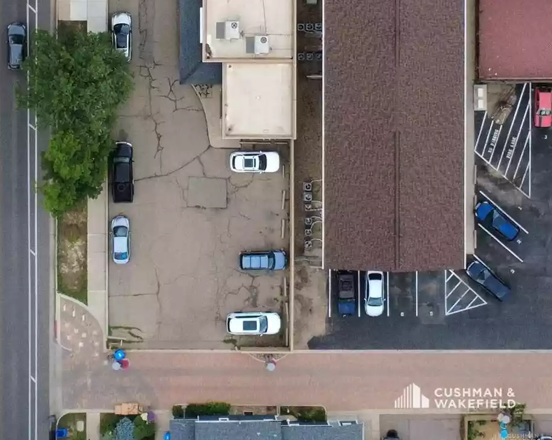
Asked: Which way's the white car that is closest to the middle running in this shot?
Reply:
from side to side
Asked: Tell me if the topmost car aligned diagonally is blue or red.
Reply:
blue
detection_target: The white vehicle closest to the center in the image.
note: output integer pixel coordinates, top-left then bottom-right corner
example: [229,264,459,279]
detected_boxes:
[228,150,281,175]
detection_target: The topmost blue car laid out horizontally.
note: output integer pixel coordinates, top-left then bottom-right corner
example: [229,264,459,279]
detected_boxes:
[237,248,288,273]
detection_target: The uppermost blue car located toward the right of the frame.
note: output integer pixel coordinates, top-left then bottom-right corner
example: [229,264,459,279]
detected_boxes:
[472,200,523,242]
